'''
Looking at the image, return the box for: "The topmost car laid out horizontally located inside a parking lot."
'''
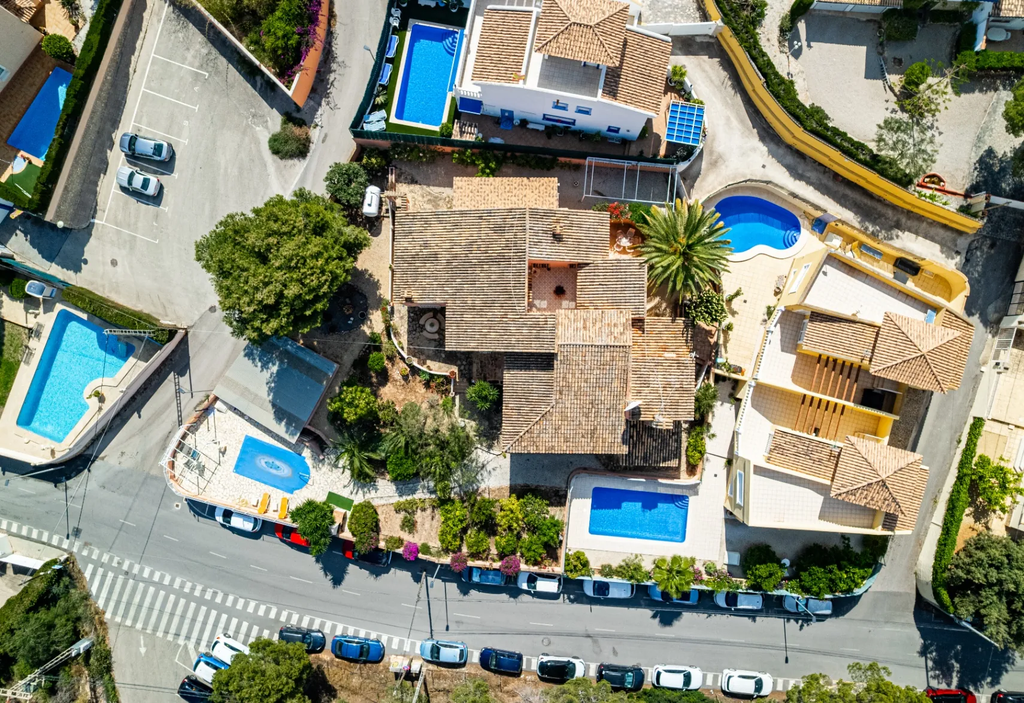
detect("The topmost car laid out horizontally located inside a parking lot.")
[121,132,176,163]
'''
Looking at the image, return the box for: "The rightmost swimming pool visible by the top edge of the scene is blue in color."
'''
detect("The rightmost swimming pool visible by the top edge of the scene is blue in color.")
[396,24,459,125]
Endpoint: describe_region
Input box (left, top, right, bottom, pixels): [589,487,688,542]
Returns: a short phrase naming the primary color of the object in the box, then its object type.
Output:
blue swimming pool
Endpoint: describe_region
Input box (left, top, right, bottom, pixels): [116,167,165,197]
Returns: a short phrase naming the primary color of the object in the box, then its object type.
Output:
white car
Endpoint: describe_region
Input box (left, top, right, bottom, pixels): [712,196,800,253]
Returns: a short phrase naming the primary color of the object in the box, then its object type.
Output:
blue swimming pool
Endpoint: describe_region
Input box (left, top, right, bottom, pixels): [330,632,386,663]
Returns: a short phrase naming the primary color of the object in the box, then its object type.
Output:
blue car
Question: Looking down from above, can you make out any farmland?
No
